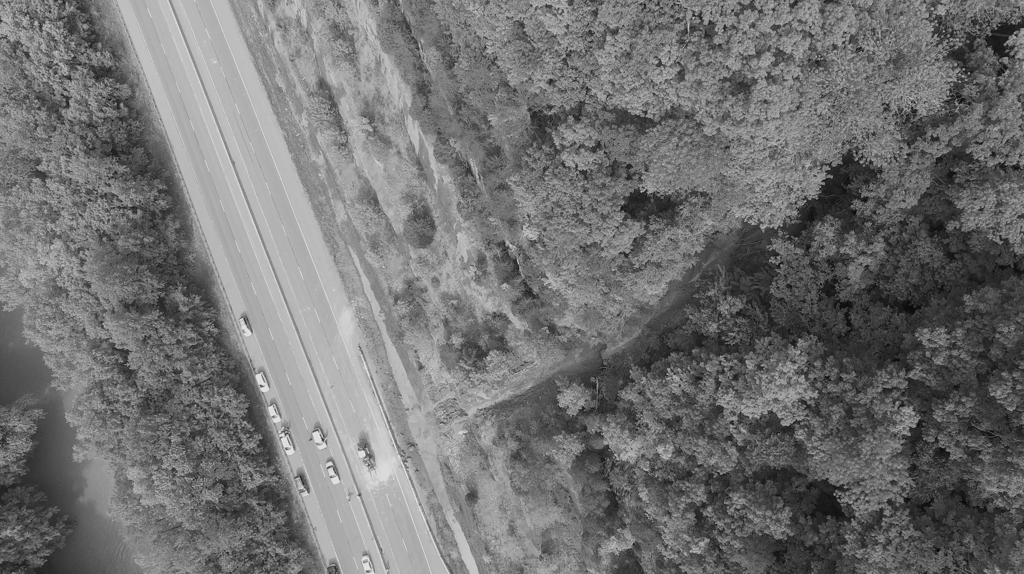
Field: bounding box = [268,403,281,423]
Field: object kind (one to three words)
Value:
vehicle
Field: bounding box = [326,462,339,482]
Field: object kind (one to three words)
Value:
vehicle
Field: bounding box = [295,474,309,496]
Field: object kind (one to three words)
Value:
car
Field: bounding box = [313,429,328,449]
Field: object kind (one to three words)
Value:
car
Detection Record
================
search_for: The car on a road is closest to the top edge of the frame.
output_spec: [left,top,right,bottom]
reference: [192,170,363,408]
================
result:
[238,316,252,337]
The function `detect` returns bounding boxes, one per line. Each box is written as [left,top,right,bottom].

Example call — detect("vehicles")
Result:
[295,474,309,496]
[326,462,339,482]
[238,316,252,337]
[280,433,294,454]
[268,403,281,423]
[256,372,269,392]
[358,443,377,475]
[313,429,328,449]
[361,554,374,574]
[327,563,338,574]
